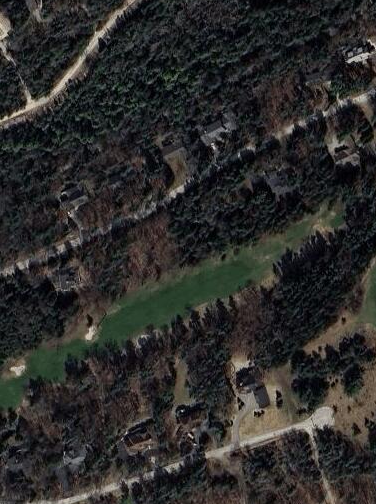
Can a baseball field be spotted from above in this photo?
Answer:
No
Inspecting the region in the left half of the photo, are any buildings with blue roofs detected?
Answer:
No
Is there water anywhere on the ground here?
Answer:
No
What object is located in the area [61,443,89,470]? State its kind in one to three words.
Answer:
house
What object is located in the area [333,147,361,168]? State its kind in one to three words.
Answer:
house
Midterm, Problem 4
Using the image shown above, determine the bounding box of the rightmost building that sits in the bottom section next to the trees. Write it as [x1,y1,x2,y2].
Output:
[234,370,272,407]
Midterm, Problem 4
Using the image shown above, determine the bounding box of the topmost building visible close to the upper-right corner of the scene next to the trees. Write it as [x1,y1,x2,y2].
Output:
[346,40,376,60]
